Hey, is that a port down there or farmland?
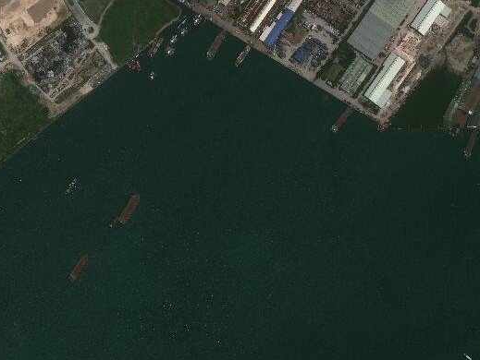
port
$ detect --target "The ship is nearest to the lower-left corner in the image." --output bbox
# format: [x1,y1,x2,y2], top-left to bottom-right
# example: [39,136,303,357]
[69,254,89,280]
